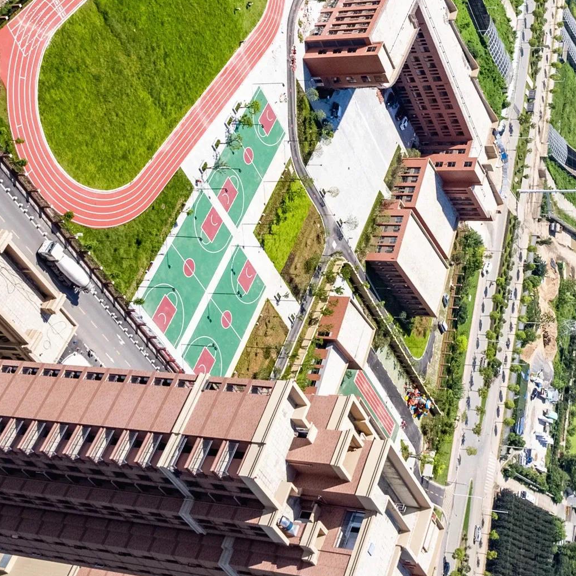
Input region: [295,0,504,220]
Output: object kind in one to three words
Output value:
building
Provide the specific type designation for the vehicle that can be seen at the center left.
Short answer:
truck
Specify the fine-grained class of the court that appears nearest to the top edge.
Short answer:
basketball court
